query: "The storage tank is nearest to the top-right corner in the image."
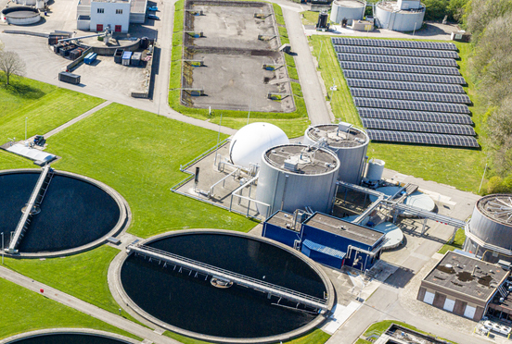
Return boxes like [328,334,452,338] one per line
[371,0,427,32]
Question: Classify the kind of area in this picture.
industrial area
